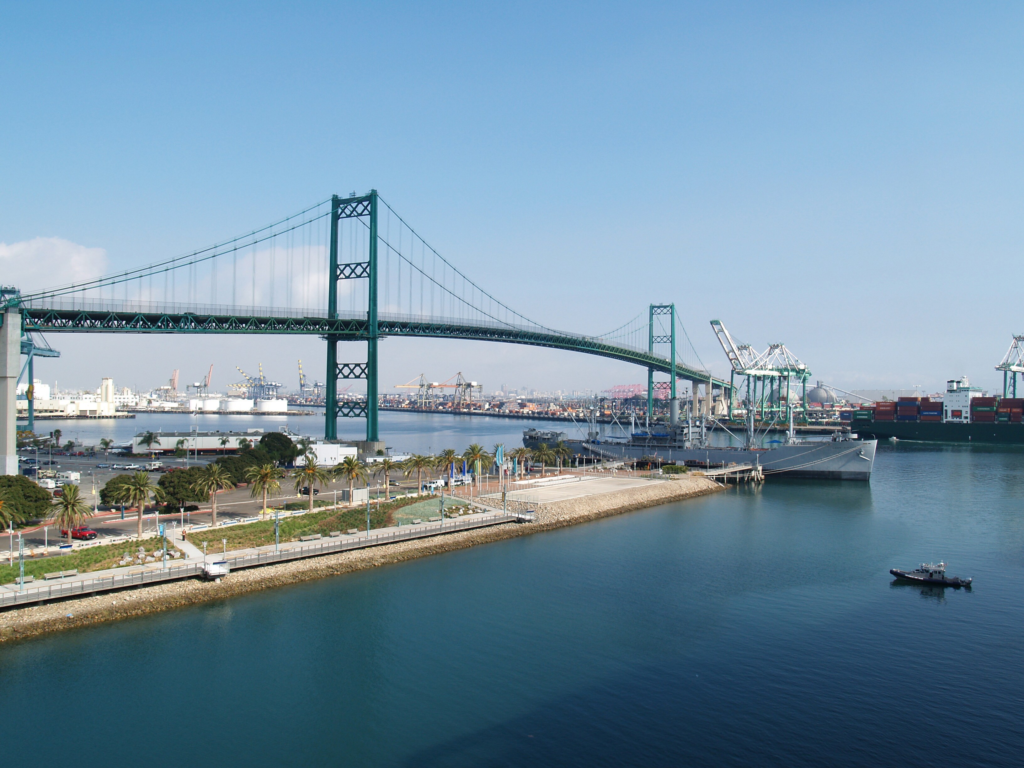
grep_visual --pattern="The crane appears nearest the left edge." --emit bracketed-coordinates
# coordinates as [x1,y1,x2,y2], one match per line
[0,279,57,436]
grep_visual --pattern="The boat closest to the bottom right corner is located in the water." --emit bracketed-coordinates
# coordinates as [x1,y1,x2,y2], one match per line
[894,555,979,586]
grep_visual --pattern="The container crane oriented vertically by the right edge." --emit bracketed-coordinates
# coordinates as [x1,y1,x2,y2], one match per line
[1001,323,1024,413]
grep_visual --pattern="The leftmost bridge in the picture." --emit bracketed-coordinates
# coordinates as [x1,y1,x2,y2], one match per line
[0,187,763,481]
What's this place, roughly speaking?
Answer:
port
